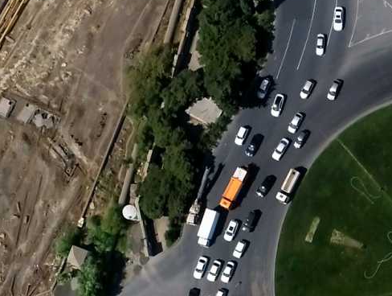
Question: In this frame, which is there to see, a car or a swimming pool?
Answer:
car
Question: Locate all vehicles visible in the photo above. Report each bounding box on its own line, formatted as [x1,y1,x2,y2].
[215,289,227,296]
[300,79,314,99]
[246,132,265,158]
[274,166,303,205]
[273,137,290,162]
[272,93,286,117]
[208,259,222,282]
[234,125,250,146]
[197,206,222,249]
[221,261,235,284]
[315,34,326,57]
[185,164,214,228]
[288,111,305,134]
[327,79,341,101]
[333,7,345,31]
[242,210,260,232]
[257,173,278,197]
[234,239,247,259]
[218,165,251,210]
[294,129,310,150]
[194,256,208,278]
[225,219,239,242]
